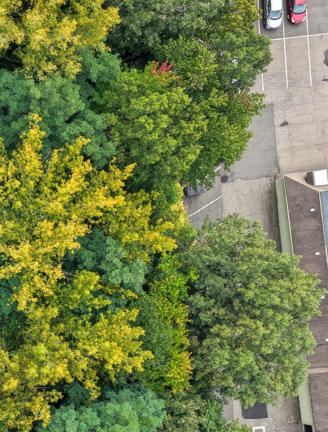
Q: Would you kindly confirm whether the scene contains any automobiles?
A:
Yes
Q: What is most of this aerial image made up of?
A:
trees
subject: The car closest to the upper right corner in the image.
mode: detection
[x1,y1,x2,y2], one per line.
[286,0,311,23]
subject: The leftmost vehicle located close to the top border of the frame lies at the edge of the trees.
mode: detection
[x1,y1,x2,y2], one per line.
[263,0,287,28]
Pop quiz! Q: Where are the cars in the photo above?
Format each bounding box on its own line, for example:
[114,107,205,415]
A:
[263,0,287,28]
[286,0,311,23]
